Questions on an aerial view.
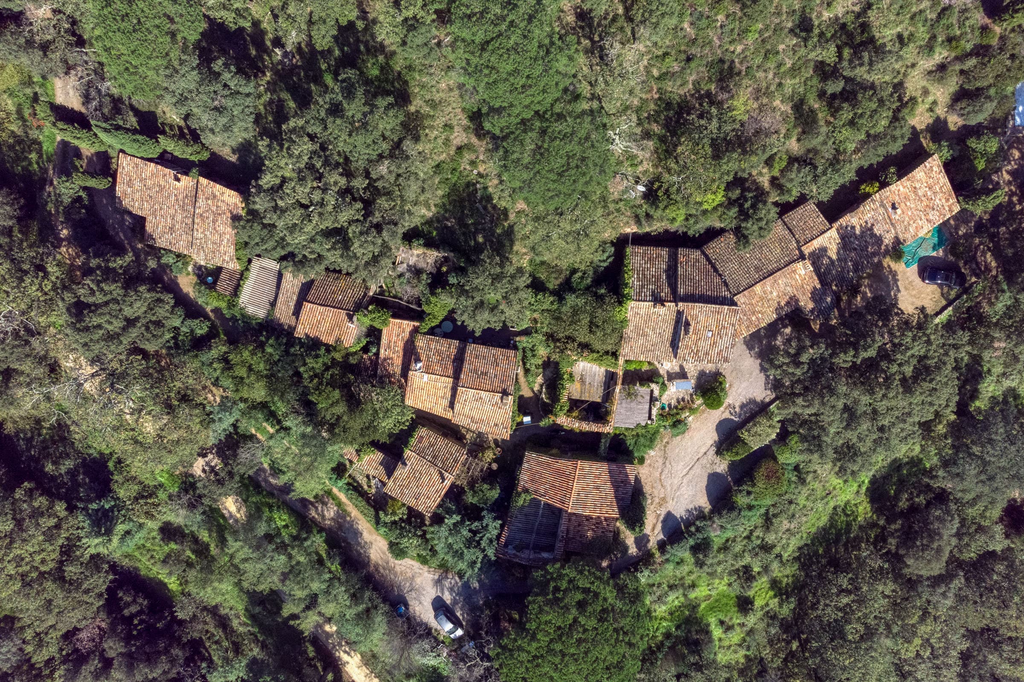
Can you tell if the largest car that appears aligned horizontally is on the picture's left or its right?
right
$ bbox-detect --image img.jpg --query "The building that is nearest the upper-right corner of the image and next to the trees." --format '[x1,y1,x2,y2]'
[793,154,961,285]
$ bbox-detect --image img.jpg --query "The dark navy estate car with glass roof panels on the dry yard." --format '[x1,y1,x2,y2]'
[921,267,968,290]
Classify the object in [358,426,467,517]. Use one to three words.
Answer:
house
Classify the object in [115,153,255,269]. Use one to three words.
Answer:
house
